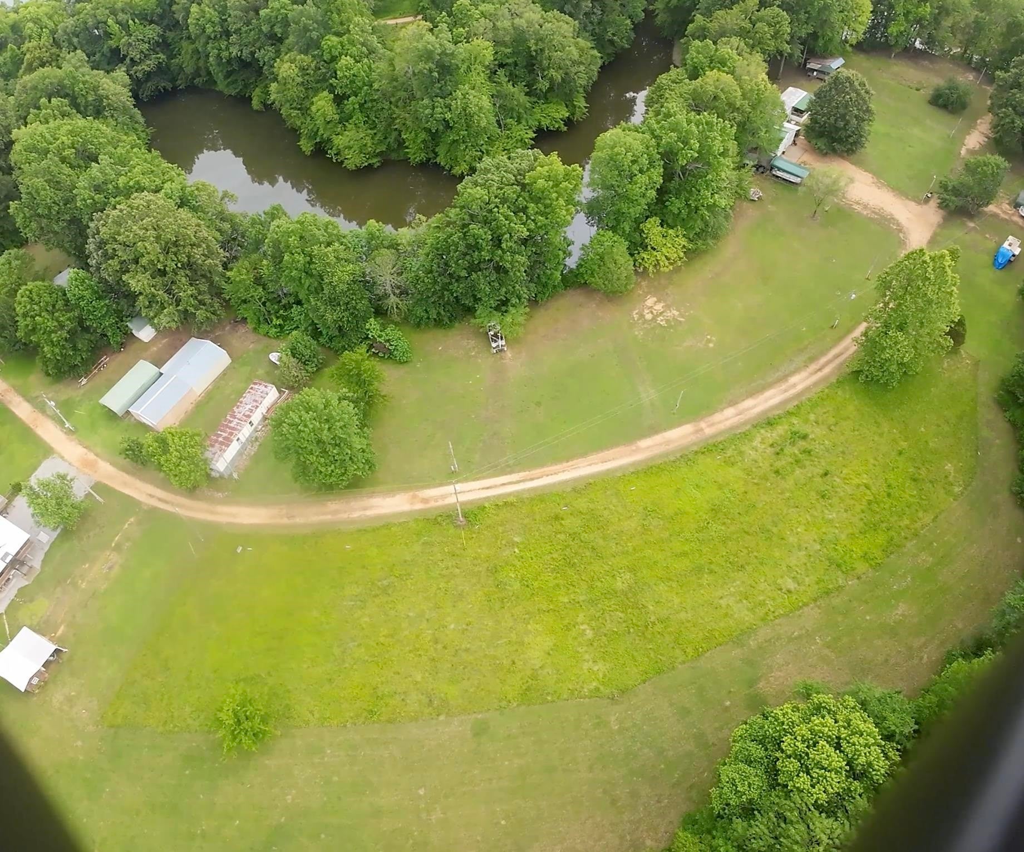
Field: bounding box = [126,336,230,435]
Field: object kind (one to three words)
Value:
building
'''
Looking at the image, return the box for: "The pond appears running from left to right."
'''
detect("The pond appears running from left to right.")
[133,0,677,278]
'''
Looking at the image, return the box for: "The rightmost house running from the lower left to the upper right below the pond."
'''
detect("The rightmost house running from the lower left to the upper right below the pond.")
[199,379,278,475]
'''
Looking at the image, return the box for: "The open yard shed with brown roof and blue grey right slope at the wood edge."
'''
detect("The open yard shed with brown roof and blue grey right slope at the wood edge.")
[802,51,847,84]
